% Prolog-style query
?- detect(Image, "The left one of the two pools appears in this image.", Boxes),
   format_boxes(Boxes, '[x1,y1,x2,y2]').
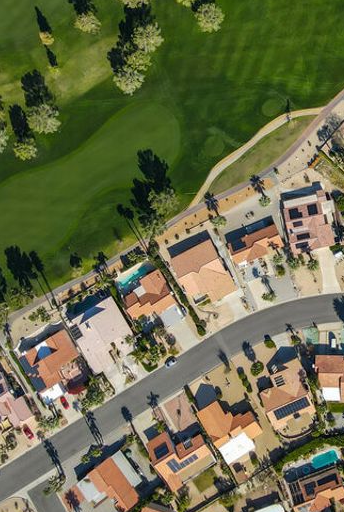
[115,260,159,297]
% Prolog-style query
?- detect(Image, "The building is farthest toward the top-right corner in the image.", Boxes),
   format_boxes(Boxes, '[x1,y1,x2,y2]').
[283,191,338,253]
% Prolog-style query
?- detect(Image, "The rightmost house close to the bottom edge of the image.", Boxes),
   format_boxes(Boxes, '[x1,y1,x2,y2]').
[288,467,344,512]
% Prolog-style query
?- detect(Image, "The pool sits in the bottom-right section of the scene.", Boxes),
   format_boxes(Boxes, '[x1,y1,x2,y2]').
[285,447,340,479]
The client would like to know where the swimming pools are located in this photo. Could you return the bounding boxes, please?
[285,447,340,479]
[115,260,159,297]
